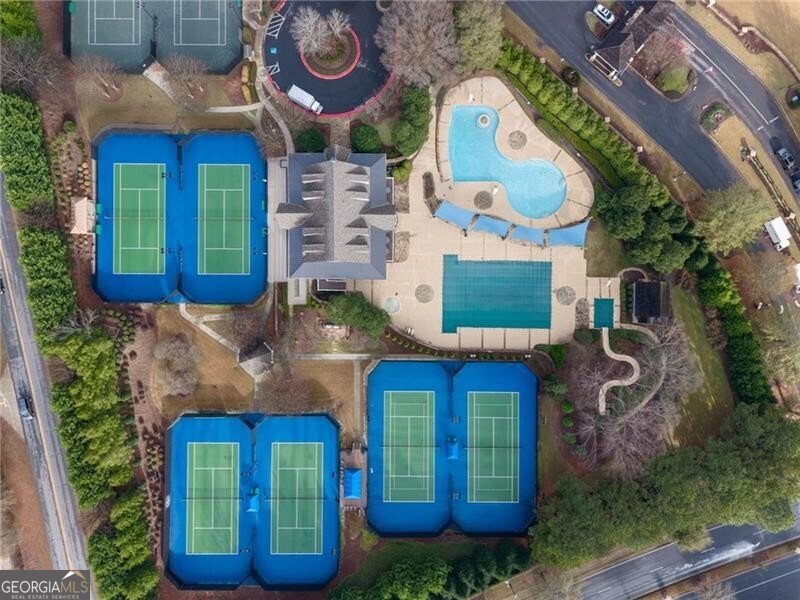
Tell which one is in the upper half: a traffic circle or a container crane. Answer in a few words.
traffic circle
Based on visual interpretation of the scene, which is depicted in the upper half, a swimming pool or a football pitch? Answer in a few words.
swimming pool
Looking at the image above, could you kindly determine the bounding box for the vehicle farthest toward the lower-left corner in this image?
[18,396,35,420]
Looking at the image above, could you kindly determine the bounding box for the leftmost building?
[73,194,103,234]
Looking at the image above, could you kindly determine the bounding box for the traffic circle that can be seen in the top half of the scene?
[299,17,362,80]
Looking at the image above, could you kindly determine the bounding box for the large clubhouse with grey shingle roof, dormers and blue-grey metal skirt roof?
[276,143,396,291]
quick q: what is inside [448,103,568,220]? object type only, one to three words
swimming pool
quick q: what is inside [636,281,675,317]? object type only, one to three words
building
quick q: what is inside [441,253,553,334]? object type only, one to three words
swimming pool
